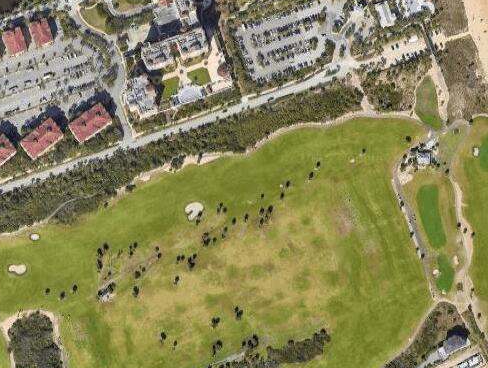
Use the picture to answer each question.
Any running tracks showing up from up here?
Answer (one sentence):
No, I can't see a single running track in this photo.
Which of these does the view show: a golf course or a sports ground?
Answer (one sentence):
The area seen from above is a golf course.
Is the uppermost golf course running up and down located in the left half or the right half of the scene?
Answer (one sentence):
The uppermost golf course running up and down appears in the right half of the scene.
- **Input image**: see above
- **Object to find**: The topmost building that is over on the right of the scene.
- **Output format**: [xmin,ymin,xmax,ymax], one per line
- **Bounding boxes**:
[376,1,396,27]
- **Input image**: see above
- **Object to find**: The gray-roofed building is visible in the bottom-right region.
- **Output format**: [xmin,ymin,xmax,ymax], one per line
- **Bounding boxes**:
[440,333,466,355]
